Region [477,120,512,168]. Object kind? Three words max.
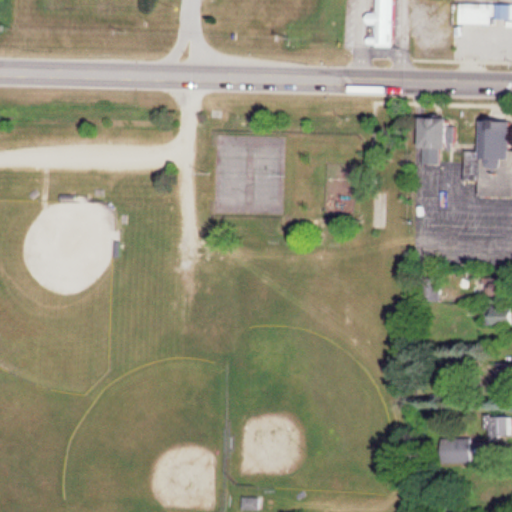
house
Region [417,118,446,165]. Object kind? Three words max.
house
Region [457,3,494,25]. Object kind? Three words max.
shed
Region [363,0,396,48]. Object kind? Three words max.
building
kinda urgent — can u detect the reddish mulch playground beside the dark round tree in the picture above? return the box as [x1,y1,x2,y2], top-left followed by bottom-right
[326,164,354,214]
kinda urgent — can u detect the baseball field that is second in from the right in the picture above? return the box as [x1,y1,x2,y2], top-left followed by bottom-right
[64,358,224,512]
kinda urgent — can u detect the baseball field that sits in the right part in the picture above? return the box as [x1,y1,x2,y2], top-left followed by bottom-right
[229,326,392,494]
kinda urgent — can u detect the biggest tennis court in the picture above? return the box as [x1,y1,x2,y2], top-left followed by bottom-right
[215,135,286,215]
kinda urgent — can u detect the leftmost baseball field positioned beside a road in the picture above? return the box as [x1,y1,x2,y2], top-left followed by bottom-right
[0,201,117,394]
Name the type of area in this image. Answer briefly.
sports ground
